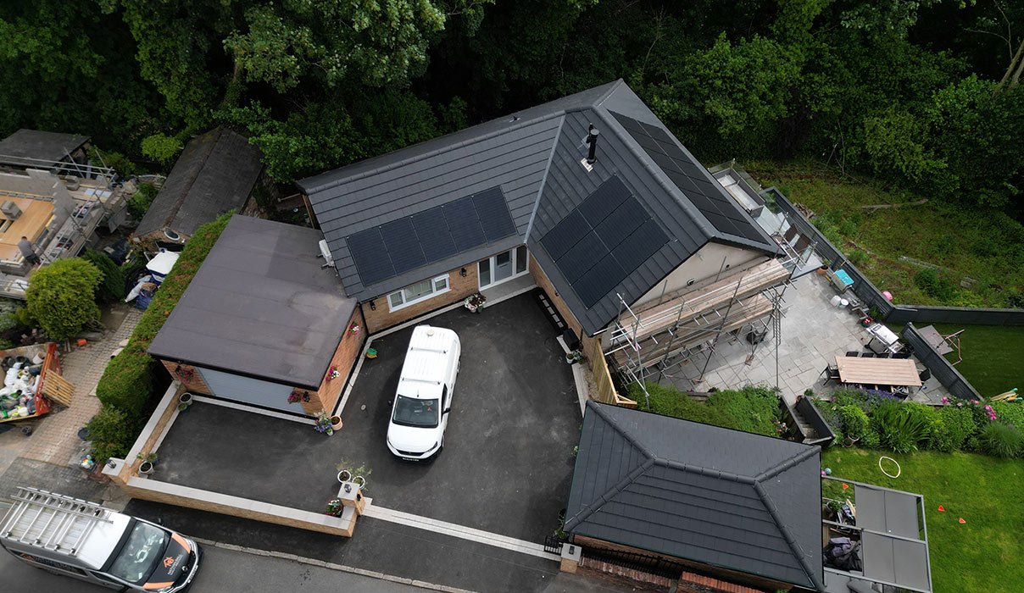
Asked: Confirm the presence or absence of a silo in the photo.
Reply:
No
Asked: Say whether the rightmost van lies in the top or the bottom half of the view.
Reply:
bottom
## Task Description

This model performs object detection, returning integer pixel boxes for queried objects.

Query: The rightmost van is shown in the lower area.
[385,331,459,468]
